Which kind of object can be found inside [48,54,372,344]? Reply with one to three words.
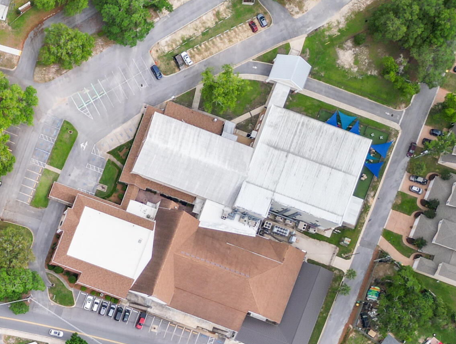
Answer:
church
